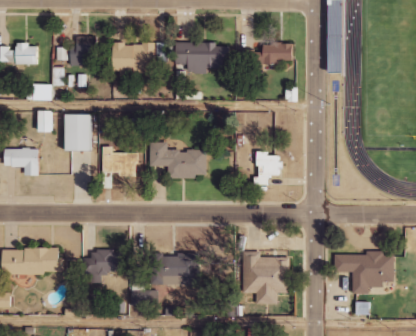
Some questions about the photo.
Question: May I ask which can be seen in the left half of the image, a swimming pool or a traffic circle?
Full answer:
Looking in the left half of the image, you will find a swimming pool.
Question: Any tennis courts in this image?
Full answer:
No, there isn't any tennis court down there.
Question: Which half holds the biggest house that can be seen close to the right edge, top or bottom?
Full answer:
Seen from above, the biggest house that can be seen close to the right edge lies in the bottom half of the view.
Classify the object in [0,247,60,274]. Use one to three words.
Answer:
house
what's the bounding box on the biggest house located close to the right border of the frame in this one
[334,250,396,294]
